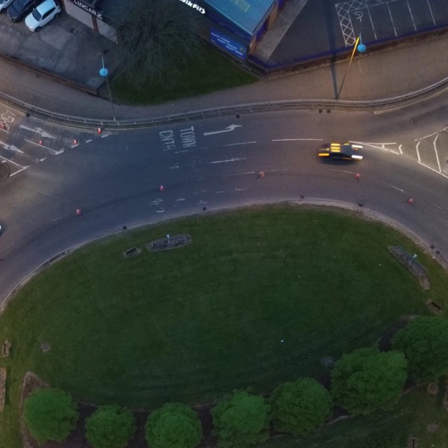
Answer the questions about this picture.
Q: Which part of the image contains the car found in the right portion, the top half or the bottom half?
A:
top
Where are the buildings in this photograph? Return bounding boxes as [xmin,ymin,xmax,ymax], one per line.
[153,0,286,61]
[59,0,150,43]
